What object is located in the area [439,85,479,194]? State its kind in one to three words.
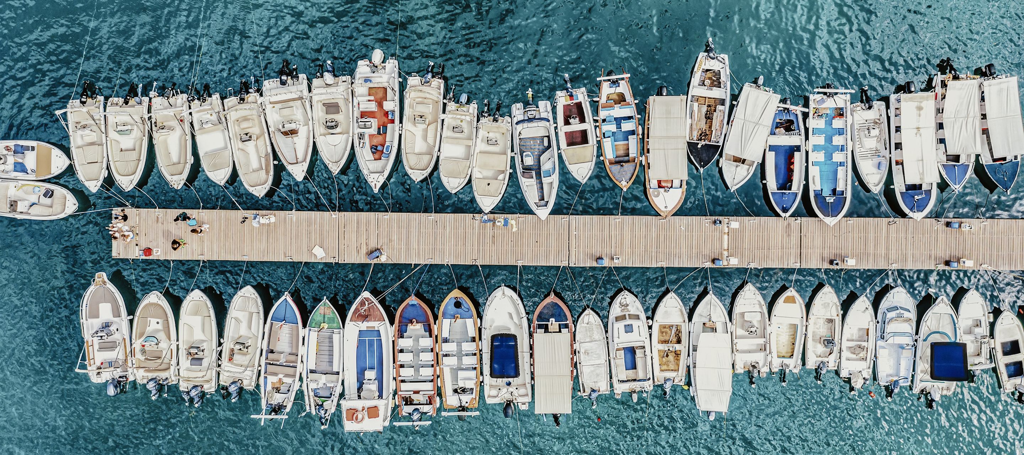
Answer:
boat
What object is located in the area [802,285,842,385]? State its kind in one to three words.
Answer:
boat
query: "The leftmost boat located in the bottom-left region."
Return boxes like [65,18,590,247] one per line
[76,271,136,397]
